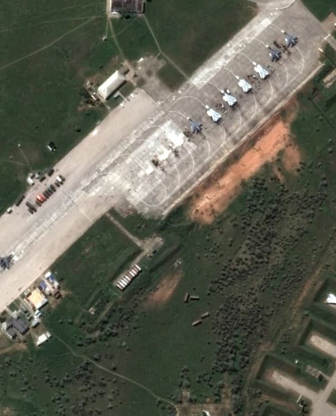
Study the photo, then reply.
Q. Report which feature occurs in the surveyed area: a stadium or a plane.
plane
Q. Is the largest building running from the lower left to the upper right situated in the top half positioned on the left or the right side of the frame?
left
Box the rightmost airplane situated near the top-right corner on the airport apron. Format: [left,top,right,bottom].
[283,31,300,47]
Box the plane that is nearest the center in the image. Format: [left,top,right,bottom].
[190,119,205,134]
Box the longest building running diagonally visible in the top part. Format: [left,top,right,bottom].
[96,70,127,100]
